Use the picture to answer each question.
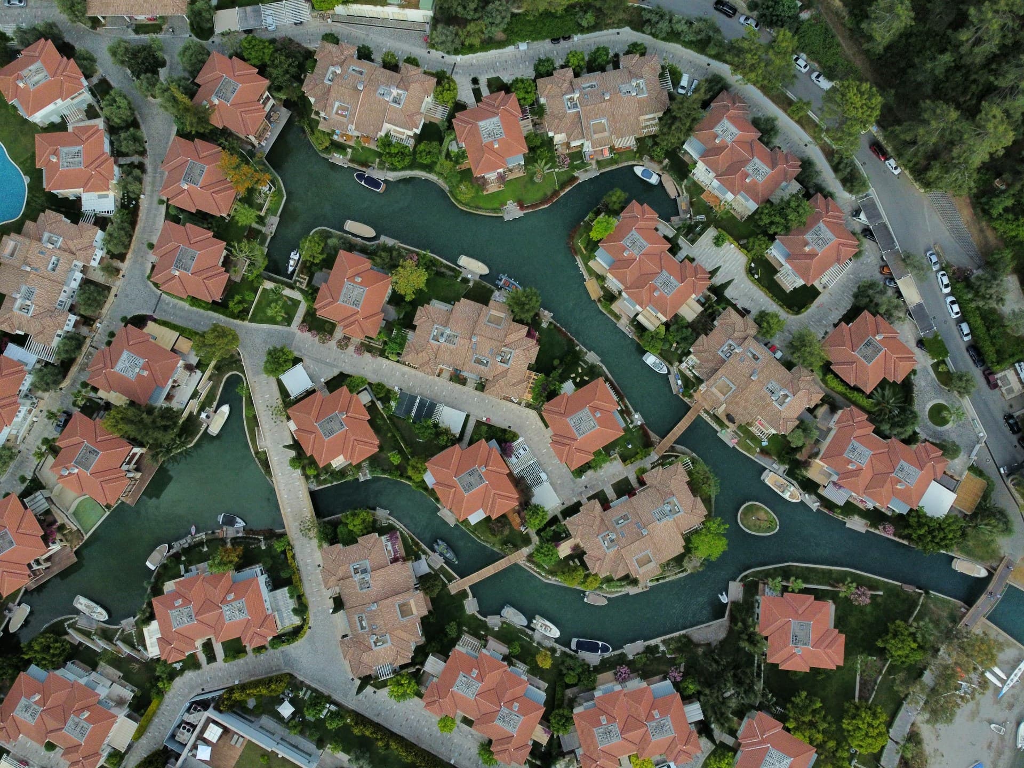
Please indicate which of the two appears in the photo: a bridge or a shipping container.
bridge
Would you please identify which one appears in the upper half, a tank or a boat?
boat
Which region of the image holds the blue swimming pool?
top left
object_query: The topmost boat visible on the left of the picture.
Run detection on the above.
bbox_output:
[355,175,389,192]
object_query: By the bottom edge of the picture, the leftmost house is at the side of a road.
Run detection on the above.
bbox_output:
[0,657,135,768]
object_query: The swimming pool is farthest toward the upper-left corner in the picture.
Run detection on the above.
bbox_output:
[0,143,27,223]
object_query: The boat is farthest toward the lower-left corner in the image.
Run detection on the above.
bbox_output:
[10,600,32,632]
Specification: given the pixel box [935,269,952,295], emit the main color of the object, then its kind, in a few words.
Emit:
white car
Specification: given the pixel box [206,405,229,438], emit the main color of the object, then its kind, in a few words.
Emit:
white boat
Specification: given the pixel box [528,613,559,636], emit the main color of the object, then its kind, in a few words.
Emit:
white boat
